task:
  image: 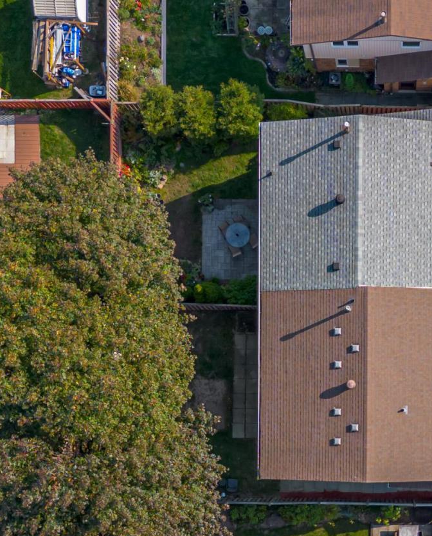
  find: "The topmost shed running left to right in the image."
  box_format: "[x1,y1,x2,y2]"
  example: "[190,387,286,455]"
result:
[33,0,104,29]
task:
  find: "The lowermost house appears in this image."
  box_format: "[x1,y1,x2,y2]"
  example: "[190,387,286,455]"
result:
[255,287,432,491]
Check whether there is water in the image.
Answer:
No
